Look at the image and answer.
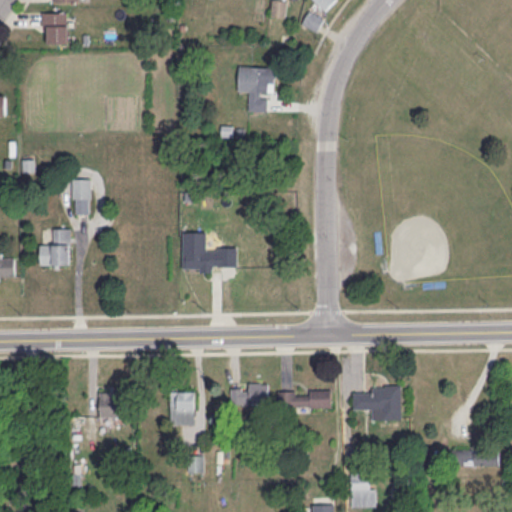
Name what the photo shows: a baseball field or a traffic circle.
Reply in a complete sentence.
I can see a baseball field in this picture.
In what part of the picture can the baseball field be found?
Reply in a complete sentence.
Look in the right portion of the view to spot the baseball field.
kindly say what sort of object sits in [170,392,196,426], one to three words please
house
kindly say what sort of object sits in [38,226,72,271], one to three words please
house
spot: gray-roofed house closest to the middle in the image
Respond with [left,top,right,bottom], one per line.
[182,232,240,274]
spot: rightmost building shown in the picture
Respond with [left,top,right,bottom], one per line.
[456,451,502,468]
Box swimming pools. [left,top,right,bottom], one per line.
[104,26,118,44]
